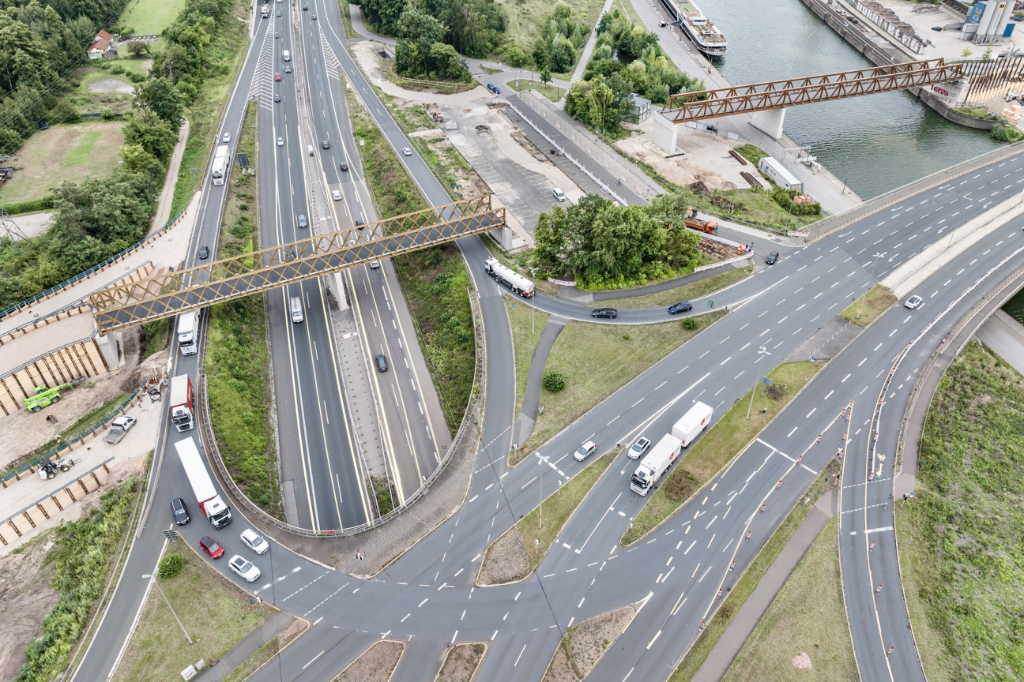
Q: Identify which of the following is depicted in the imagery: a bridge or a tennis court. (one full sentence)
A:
I can see a bridge in this picture.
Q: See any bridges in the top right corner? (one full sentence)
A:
Yes, a bridge can be seen in the top right corner.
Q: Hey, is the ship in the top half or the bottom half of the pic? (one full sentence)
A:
Seen from above, the ship lies in the top half of the view.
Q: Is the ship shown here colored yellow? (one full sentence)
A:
No, the color of the ship is white.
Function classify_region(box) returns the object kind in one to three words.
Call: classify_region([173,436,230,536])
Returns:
truck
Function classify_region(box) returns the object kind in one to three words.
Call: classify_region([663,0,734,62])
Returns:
ship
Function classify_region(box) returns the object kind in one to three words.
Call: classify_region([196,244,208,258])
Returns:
vehicle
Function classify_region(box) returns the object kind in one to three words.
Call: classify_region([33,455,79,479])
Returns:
work vehicle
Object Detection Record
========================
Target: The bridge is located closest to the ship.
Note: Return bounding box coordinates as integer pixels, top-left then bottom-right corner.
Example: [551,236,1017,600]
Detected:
[659,53,969,125]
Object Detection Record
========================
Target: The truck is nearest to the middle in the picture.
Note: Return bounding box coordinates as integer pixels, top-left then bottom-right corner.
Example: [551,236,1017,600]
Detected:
[481,260,538,303]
